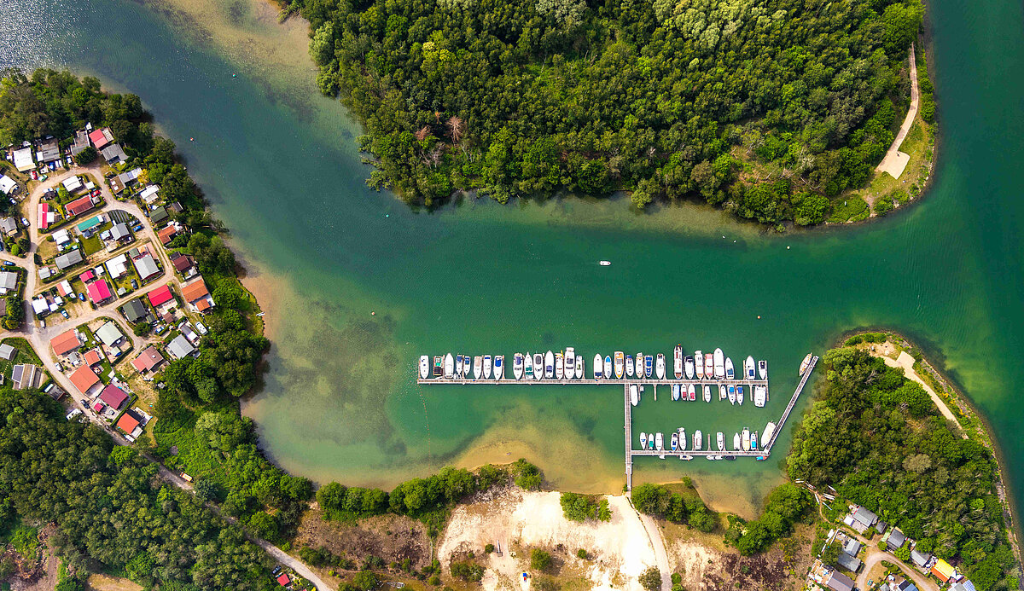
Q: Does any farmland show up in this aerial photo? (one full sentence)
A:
No, the picture contains no farmland.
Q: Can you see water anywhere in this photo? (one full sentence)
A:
Yes, there's water in this view.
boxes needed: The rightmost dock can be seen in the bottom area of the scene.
[763,355,819,452]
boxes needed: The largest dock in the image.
[417,356,771,400]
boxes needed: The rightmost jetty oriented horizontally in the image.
[631,433,771,456]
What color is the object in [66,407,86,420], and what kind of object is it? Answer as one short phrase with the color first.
white vehicle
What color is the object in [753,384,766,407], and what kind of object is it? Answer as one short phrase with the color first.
white boat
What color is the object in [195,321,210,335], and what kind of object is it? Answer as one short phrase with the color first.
white camper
